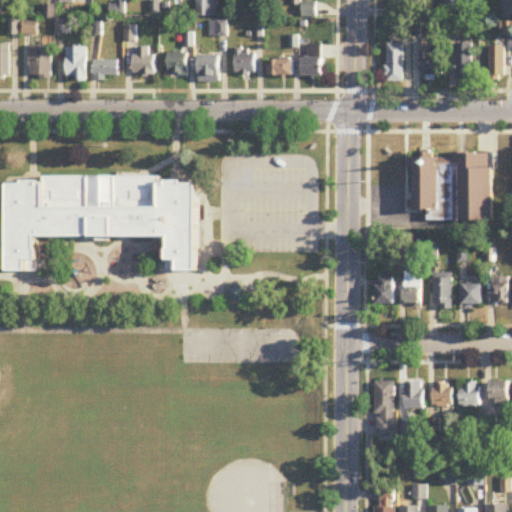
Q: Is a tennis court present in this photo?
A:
No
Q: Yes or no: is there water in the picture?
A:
No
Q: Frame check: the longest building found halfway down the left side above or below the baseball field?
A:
above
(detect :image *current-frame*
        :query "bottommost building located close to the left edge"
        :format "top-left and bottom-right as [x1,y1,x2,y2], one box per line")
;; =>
[2,174,202,272]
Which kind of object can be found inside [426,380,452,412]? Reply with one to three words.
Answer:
house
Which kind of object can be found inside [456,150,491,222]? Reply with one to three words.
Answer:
building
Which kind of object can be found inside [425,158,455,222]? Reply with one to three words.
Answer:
building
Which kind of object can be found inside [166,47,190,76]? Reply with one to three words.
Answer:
house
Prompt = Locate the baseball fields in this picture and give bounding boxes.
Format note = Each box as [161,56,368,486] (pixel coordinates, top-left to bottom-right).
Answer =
[0,332,322,512]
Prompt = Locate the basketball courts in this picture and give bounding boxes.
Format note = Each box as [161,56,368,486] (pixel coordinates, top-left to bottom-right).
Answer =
[184,328,300,363]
